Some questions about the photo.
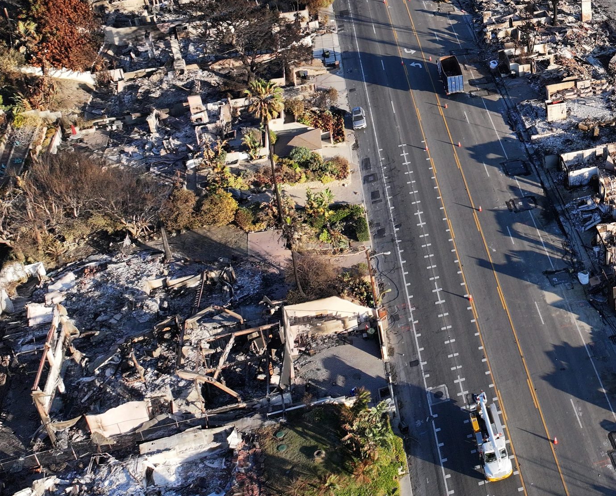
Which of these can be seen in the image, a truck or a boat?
truck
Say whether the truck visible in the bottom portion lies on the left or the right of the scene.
right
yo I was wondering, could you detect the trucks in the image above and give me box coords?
[434,50,463,93]
[459,373,509,478]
